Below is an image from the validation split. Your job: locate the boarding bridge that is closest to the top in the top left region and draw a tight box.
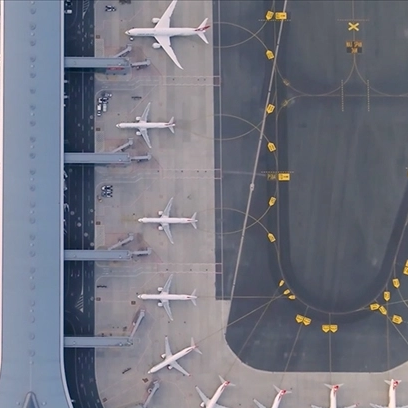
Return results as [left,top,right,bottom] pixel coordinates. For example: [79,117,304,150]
[64,44,152,75]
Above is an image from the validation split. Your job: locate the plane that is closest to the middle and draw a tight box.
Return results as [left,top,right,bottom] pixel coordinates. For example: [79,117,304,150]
[137,198,198,244]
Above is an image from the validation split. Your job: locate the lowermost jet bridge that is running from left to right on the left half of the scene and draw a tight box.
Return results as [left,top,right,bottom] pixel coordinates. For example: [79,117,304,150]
[64,312,145,347]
